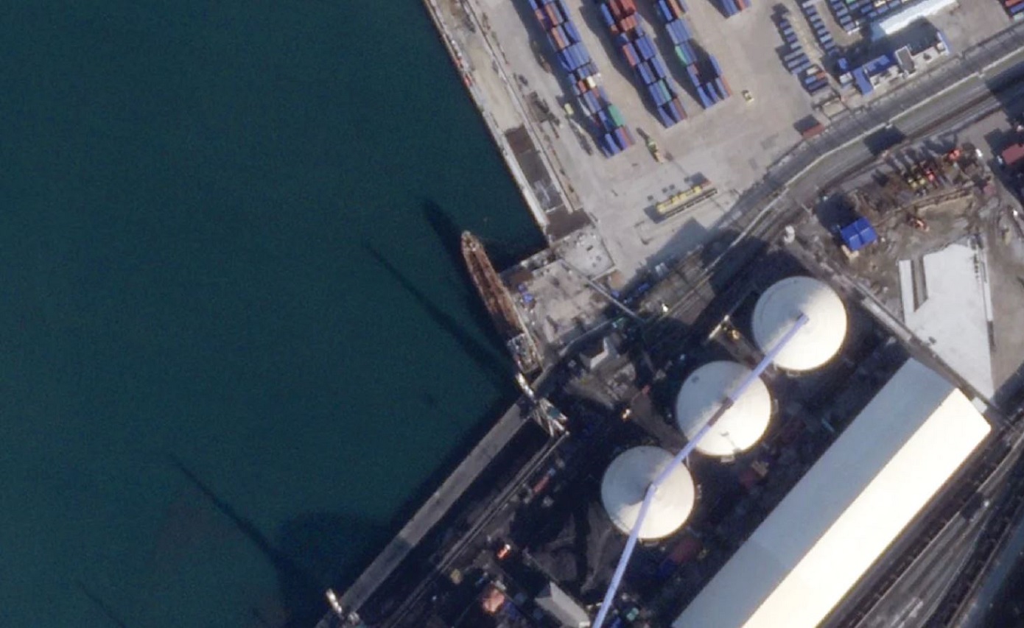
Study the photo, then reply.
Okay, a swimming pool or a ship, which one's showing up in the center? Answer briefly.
ship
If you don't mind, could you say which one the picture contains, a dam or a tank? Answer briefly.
tank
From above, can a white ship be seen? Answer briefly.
No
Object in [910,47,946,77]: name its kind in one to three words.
building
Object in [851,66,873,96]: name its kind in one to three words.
shed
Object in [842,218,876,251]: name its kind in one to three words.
house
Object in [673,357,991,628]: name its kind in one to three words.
warehouse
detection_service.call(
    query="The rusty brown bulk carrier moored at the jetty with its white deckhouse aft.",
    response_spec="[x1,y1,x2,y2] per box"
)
[465,230,549,379]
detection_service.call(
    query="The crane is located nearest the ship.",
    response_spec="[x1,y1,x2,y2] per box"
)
[511,374,574,442]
